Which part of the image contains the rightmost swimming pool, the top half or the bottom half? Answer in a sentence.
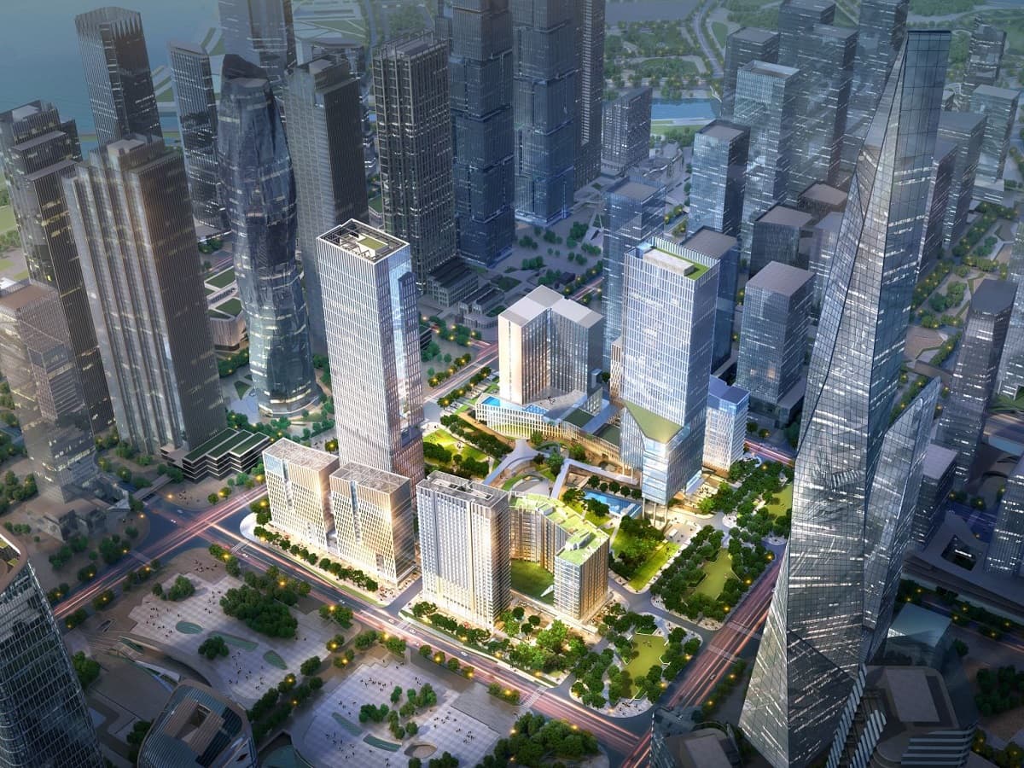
Seen from above, the rightmost swimming pool lies in the bottom half of the view.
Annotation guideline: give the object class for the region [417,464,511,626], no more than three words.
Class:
building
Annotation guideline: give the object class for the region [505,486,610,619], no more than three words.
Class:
building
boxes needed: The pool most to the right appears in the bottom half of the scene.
[584,488,643,519]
